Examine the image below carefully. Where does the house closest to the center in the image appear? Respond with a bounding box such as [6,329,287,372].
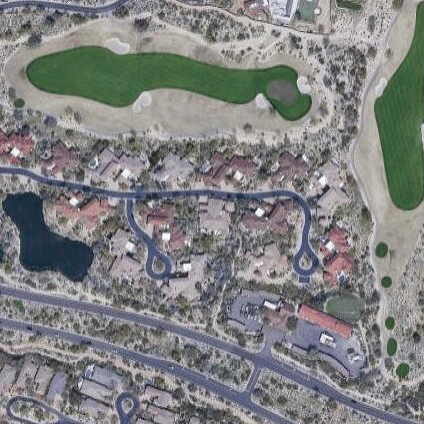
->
[197,195,235,234]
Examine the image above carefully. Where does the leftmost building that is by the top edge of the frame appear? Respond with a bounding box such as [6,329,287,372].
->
[244,0,270,20]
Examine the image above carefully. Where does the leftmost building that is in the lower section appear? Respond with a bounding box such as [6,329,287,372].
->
[0,362,17,394]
